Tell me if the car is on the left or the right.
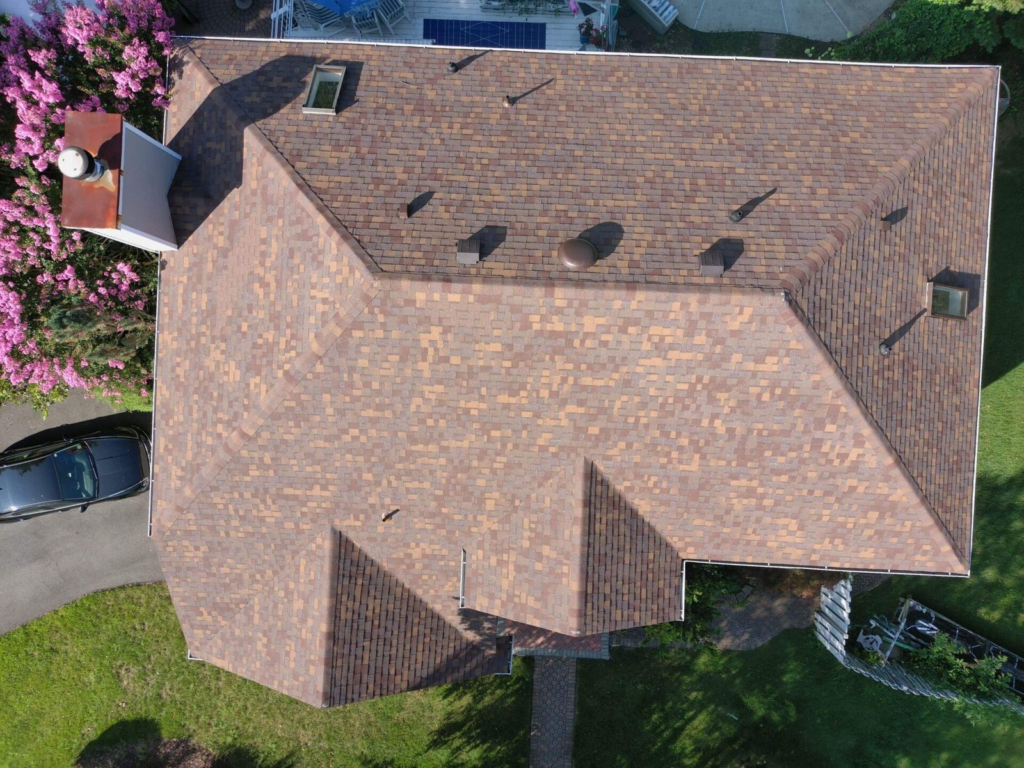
left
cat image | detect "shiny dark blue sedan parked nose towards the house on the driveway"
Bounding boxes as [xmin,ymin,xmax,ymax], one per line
[0,419,151,519]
